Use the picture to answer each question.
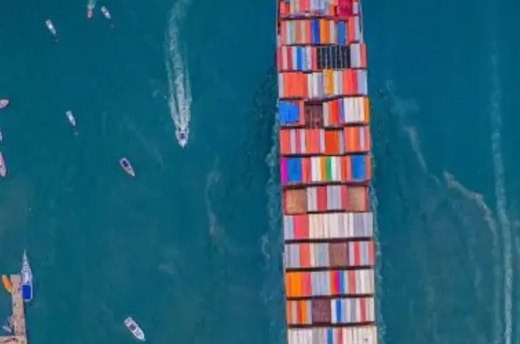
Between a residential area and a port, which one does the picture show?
port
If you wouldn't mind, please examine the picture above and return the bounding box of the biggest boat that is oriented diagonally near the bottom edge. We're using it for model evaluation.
[123,315,145,341]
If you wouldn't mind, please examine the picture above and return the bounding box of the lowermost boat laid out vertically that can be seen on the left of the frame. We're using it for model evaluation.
[16,250,31,303]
